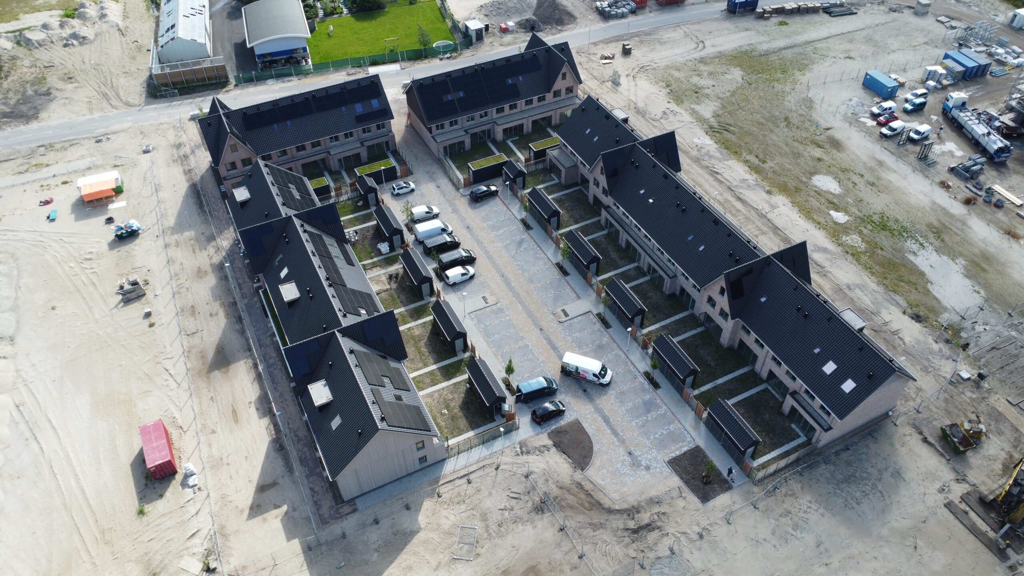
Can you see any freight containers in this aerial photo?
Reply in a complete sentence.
Yes, there is a freight container in the image.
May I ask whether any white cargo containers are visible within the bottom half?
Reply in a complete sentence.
No, looking within the bottom half, there is no white cargo container.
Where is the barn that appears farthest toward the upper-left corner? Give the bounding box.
[155,0,213,63]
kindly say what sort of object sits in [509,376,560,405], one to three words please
van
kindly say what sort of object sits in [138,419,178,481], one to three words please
shipping container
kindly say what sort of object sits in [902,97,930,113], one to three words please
car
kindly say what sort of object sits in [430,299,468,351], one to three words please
shed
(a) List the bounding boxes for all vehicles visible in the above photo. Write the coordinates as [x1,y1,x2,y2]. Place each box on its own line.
[564,352,613,386]
[409,204,439,221]
[424,230,461,252]
[875,111,900,126]
[902,97,930,113]
[531,401,566,425]
[443,265,476,286]
[908,122,934,141]
[469,183,499,201]
[943,93,1012,159]
[881,118,908,137]
[902,86,930,100]
[392,180,416,195]
[439,246,476,267]
[509,376,560,405]
[411,216,452,241]
[870,101,899,116]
